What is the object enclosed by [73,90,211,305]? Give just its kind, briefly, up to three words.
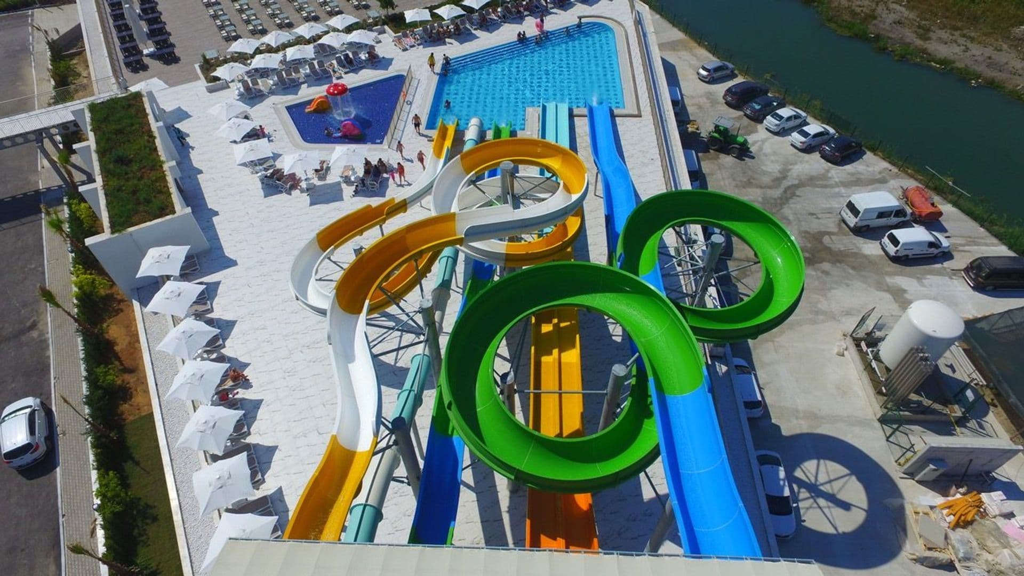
building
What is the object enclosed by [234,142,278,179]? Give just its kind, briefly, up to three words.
umbrella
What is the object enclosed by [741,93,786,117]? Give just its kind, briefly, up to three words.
car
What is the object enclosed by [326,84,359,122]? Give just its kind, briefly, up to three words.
fountain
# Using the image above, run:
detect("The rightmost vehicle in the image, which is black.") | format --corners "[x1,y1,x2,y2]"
[972,247,1024,287]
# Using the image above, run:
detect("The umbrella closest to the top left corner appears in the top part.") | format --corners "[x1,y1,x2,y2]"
[122,0,156,51]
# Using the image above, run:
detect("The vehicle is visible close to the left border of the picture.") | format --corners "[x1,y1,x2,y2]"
[1,401,48,465]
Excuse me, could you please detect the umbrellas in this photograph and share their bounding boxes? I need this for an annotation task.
[228,40,265,61]
[401,8,434,26]
[253,54,286,86]
[295,24,331,45]
[347,31,380,61]
[139,245,195,288]
[283,46,319,76]
[165,322,223,368]
[212,65,250,97]
[234,142,278,179]
[199,503,274,576]
[460,0,493,11]
[185,449,270,525]
[179,401,250,471]
[215,121,260,148]
[325,145,369,183]
[122,0,156,51]
[130,79,169,100]
[167,356,231,415]
[281,152,325,191]
[326,16,360,37]
[260,33,295,55]
[151,280,205,326]
[434,6,467,22]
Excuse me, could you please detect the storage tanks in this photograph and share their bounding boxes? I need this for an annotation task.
[855,307,961,380]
